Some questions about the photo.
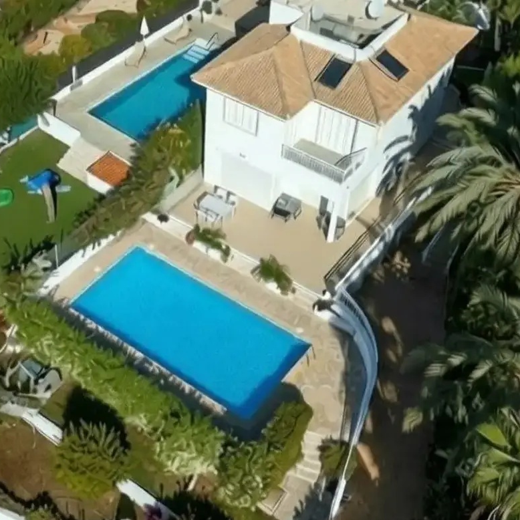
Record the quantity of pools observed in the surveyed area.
two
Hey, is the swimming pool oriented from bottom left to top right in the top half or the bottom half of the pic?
top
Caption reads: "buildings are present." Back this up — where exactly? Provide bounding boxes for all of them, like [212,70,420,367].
[191,0,482,244]
[88,145,129,182]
